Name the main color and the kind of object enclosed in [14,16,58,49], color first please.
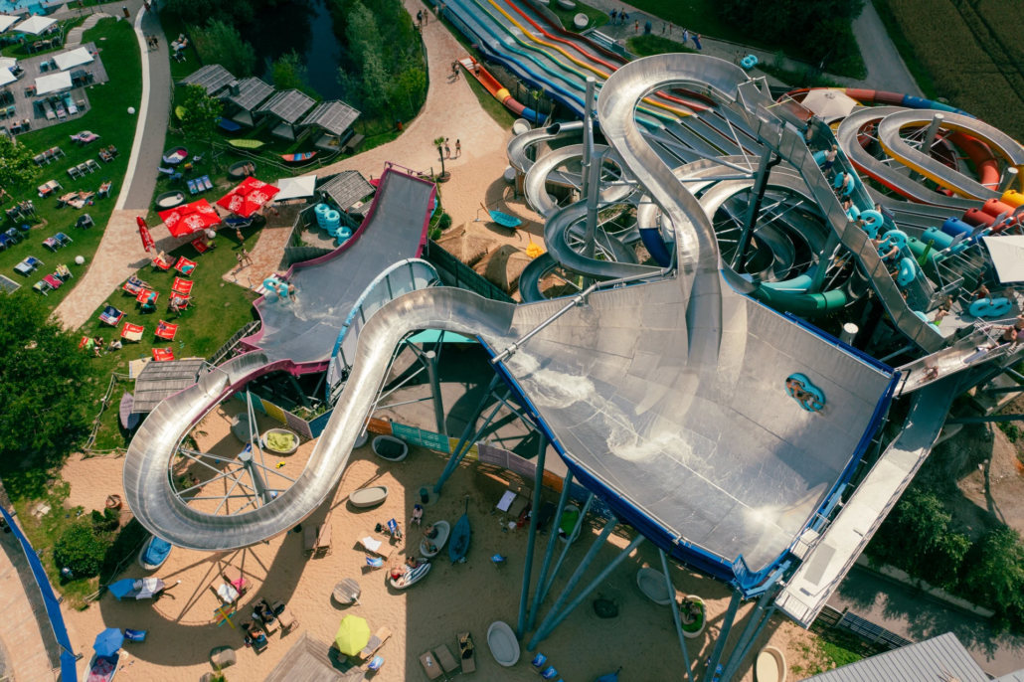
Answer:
white umbrella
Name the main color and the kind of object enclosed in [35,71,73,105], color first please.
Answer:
white umbrella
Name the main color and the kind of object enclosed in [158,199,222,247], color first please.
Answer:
red umbrella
